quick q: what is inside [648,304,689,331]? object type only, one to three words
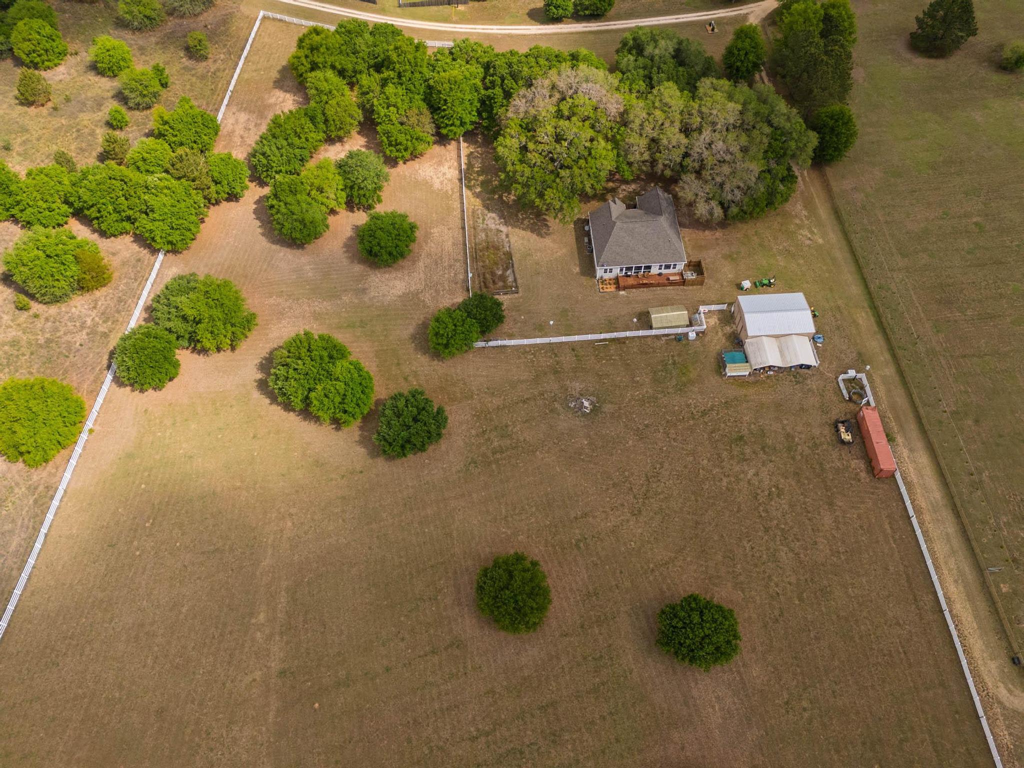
shed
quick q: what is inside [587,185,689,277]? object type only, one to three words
house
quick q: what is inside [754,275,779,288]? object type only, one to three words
vehicle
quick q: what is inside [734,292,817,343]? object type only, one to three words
barn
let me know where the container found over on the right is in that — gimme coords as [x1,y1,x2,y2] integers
[856,407,896,478]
